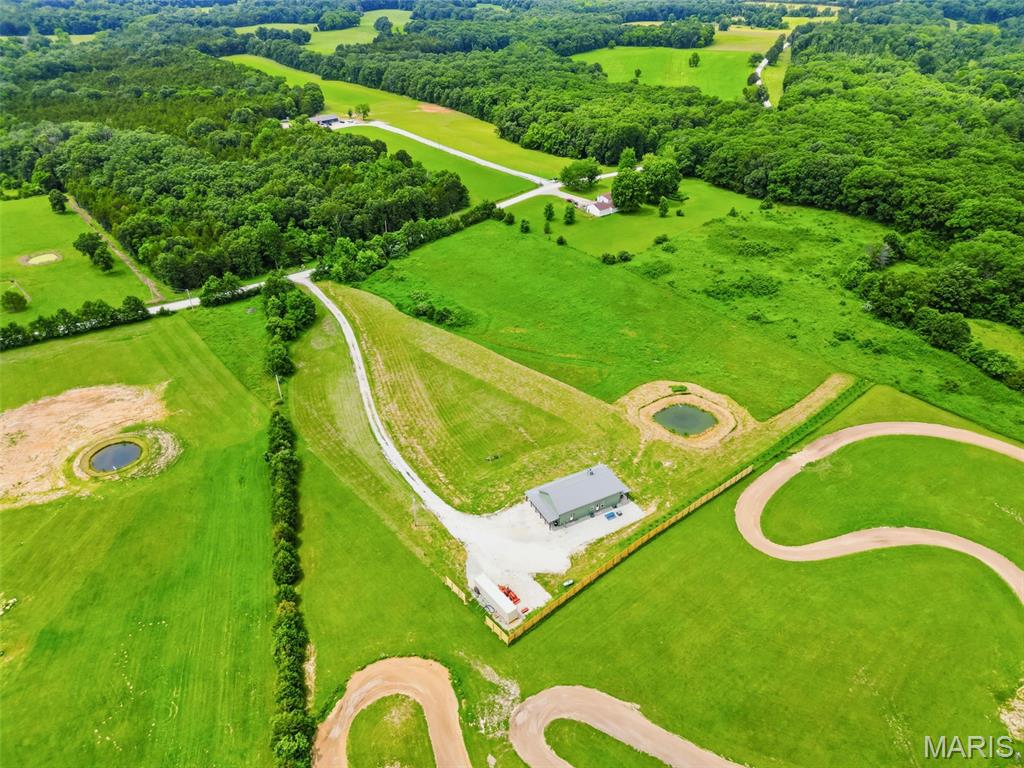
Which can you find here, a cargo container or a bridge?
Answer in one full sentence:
Looking from above, you can make out a cargo container.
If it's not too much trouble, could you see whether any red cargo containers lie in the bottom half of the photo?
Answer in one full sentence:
No, looking in the bottom half of the photo, there is no red cargo container.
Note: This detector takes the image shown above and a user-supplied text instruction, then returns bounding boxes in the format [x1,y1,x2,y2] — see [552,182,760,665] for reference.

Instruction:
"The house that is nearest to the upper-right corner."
[586,194,614,217]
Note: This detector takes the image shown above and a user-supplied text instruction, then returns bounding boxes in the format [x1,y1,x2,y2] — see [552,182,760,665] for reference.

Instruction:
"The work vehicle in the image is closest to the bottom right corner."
[500,581,525,605]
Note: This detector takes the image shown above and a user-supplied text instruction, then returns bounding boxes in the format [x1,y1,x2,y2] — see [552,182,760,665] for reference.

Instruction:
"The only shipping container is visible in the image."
[476,571,520,623]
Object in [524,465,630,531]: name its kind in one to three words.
house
